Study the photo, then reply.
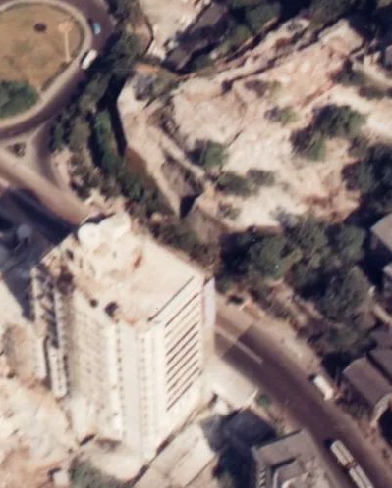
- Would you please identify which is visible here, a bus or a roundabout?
bus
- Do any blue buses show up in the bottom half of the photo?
No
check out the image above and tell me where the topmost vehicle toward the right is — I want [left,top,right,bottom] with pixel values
[315,377,332,397]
